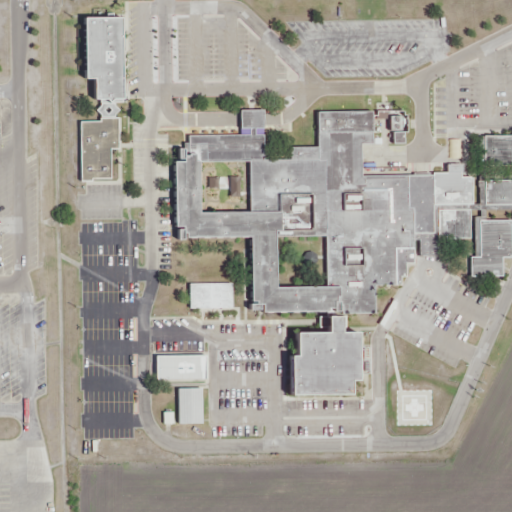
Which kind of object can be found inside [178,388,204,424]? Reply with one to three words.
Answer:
shed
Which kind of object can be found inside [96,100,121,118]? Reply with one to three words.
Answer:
building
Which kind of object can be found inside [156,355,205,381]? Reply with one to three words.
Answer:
building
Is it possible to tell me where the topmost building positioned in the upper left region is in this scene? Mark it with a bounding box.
[85,17,125,100]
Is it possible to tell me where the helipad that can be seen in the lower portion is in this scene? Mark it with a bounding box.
[396,390,433,426]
